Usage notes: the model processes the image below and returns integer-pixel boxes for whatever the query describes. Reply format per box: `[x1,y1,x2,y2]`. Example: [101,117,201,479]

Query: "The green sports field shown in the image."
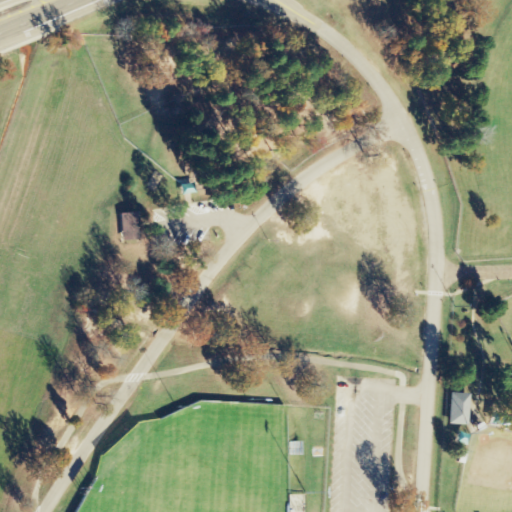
[74,401,287,512]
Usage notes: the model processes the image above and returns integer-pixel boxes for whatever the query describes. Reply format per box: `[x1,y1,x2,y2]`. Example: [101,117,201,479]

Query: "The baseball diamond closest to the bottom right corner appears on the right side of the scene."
[456,428,512,512]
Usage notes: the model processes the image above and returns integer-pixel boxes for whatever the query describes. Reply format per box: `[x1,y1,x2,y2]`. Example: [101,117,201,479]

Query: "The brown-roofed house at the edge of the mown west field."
[116,212,141,240]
